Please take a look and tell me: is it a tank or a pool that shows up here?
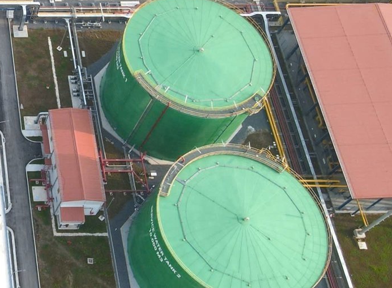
tank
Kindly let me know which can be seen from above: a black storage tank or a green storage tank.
green storage tank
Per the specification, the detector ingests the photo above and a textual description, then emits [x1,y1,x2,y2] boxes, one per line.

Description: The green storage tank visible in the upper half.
[95,0,276,166]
